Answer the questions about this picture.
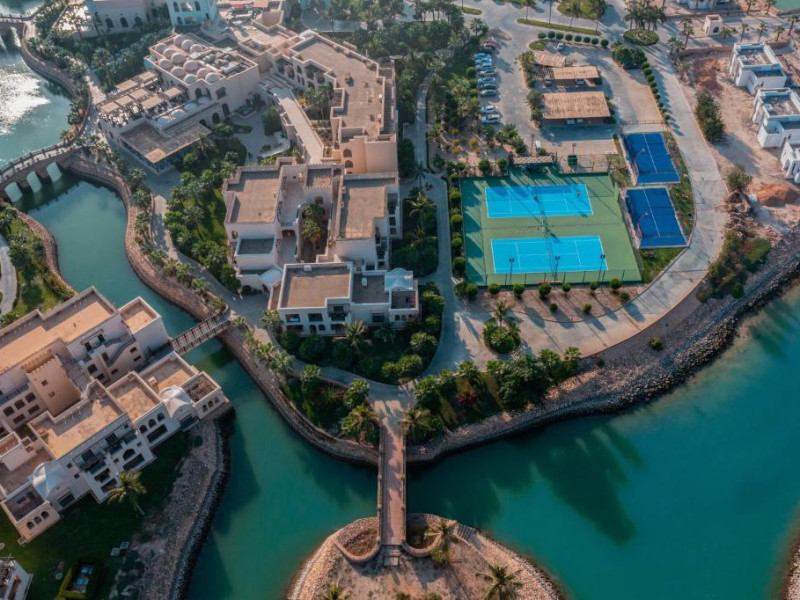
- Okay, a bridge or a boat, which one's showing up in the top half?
bridge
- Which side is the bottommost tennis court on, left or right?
right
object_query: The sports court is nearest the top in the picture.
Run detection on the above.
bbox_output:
[622,123,683,184]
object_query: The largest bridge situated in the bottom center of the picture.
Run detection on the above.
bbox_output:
[377,396,405,572]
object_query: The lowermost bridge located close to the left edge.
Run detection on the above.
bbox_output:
[0,140,81,199]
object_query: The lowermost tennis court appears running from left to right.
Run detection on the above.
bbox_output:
[491,231,608,274]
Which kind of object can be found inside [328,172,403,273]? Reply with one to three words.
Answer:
house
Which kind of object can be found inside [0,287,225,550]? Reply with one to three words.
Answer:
building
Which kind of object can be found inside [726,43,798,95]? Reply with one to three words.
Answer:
house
